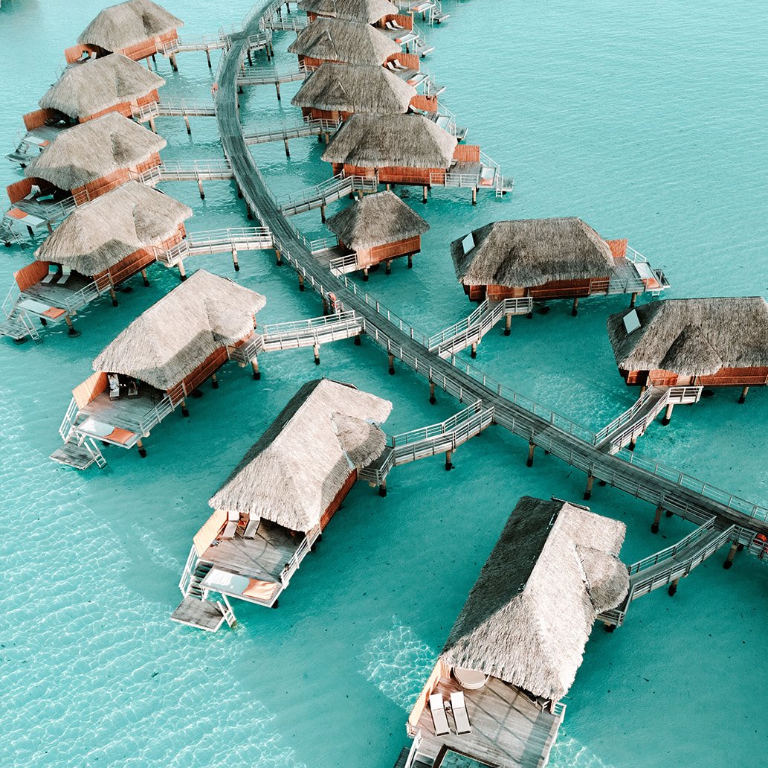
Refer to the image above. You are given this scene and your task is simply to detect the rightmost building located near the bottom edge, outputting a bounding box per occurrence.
[392,497,636,768]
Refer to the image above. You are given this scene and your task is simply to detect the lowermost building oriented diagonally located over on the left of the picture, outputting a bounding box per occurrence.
[170,379,396,634]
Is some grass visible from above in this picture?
No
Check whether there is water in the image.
Yes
